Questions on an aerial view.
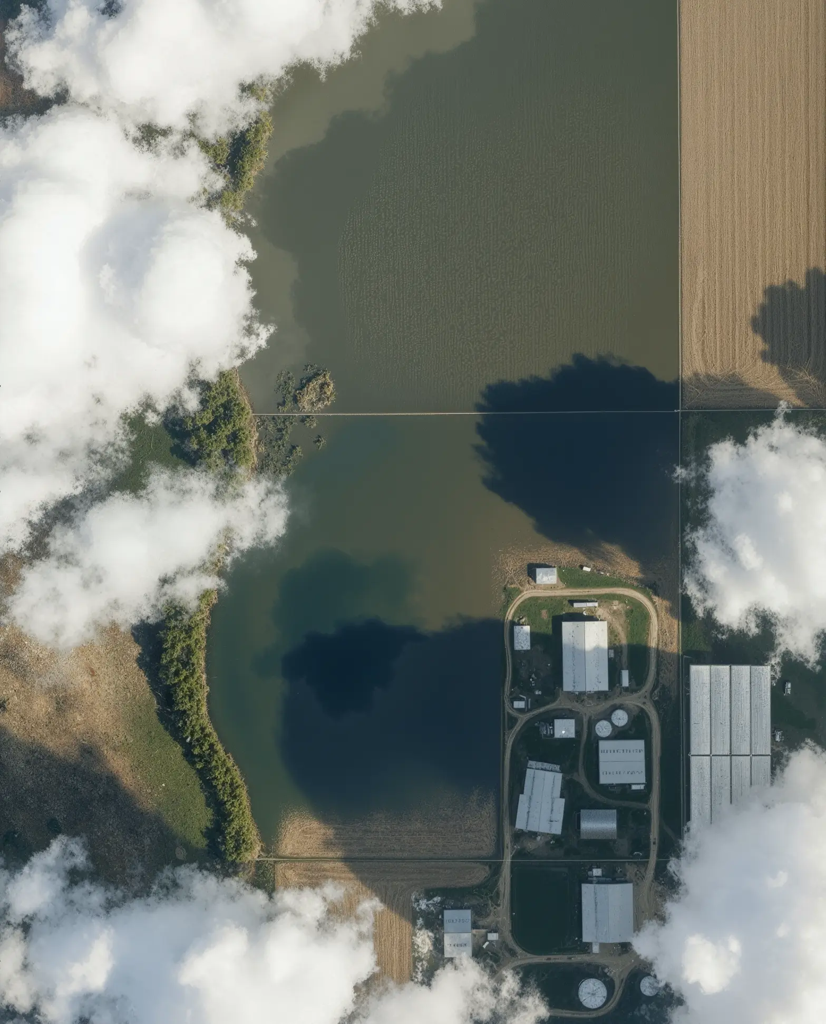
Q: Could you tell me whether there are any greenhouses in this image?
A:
Yes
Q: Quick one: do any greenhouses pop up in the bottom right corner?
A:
Yes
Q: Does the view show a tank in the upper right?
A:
No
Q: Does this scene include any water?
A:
Yes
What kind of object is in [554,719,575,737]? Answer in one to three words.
shed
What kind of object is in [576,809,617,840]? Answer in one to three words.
shed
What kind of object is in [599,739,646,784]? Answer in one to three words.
barn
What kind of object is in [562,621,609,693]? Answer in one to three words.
barn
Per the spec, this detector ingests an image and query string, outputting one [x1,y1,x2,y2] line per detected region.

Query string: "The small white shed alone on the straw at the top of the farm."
[536,568,557,584]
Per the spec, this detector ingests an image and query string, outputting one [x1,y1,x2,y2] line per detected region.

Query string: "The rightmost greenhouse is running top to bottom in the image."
[690,665,771,848]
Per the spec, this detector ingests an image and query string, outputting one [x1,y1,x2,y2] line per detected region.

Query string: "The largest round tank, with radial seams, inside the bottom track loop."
[578,978,607,1008]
